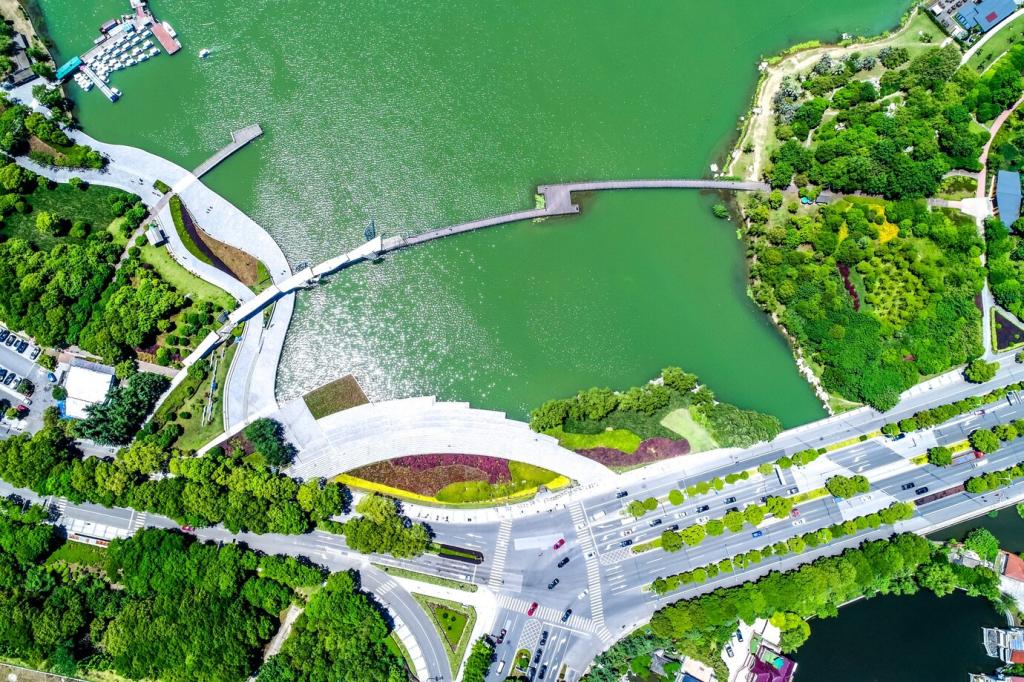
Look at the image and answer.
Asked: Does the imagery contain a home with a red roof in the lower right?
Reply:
Yes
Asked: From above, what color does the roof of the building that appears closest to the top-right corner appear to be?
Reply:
blue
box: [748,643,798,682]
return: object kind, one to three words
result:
house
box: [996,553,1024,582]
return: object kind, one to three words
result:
house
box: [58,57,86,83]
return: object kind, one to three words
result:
building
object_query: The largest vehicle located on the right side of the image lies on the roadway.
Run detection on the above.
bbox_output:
[953,453,984,467]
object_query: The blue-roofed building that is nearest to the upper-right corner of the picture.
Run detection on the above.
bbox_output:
[968,0,1018,38]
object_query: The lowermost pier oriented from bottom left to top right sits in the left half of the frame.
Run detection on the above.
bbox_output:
[191,123,263,178]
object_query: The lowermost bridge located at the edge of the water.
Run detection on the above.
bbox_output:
[784,404,1024,536]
